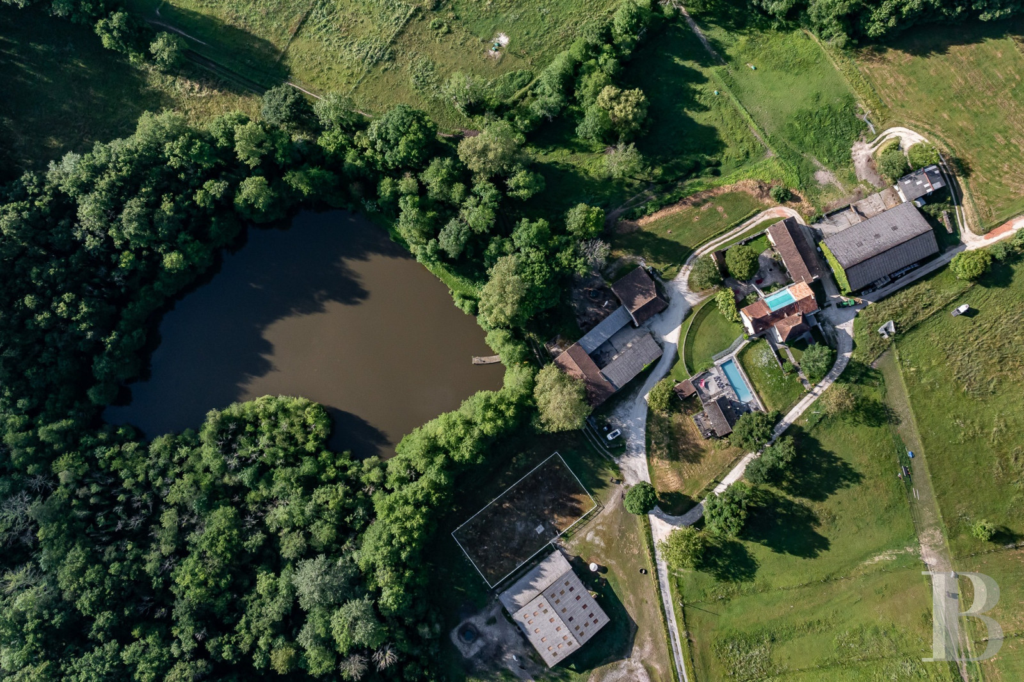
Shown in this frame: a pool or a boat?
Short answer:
pool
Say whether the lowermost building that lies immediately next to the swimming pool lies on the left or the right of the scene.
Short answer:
right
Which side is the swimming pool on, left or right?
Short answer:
right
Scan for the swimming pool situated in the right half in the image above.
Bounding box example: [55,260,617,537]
[717,355,758,409]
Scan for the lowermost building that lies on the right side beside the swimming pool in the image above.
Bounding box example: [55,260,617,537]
[703,397,739,437]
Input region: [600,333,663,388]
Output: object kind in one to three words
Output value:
barn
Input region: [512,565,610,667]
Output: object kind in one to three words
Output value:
barn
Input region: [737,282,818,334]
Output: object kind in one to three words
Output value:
house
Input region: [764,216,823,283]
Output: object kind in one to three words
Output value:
house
